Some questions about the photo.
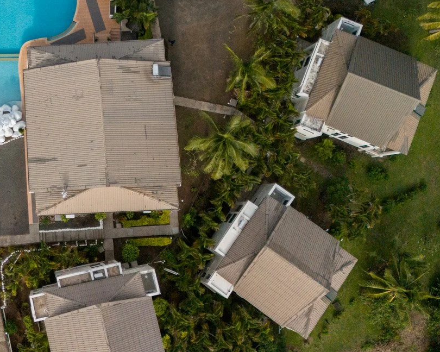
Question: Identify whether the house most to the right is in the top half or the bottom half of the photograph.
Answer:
top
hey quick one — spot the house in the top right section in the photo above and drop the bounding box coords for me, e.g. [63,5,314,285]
[282,17,438,158]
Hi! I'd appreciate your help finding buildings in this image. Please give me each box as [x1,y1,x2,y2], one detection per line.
[201,184,357,338]
[282,17,438,158]
[24,39,183,218]
[29,259,169,352]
